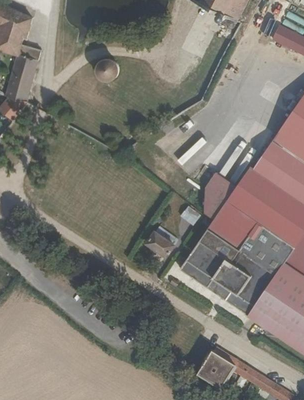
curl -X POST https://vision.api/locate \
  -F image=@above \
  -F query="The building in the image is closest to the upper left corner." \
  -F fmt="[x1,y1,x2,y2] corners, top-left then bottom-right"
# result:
[0,0,32,25]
